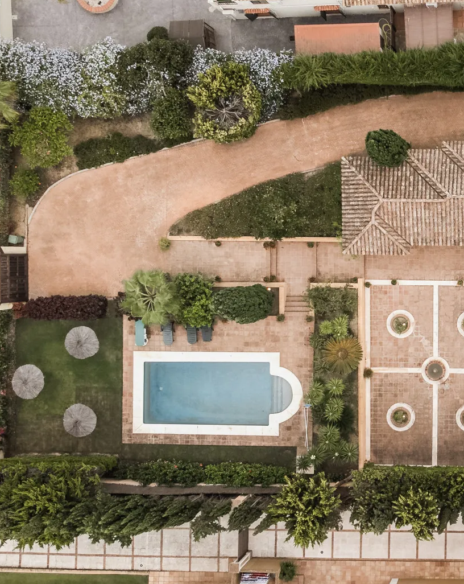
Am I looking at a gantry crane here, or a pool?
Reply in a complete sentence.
The one in the frame is a pool.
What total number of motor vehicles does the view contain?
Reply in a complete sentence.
The picture shows no motor vehicles.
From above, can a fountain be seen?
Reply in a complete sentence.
Yes, the frame does contain a fountain.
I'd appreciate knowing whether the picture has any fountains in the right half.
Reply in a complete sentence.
Yes, you'll find a fountain in the right half.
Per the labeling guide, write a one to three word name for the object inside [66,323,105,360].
umbrella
